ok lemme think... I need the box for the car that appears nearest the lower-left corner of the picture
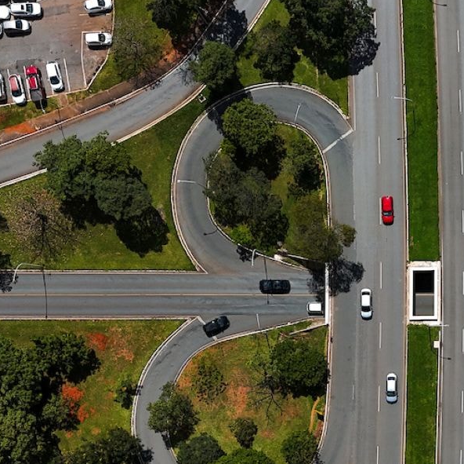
[203,316,232,335]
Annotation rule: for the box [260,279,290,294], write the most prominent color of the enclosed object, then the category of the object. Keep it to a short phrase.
black car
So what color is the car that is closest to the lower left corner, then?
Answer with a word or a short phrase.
black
